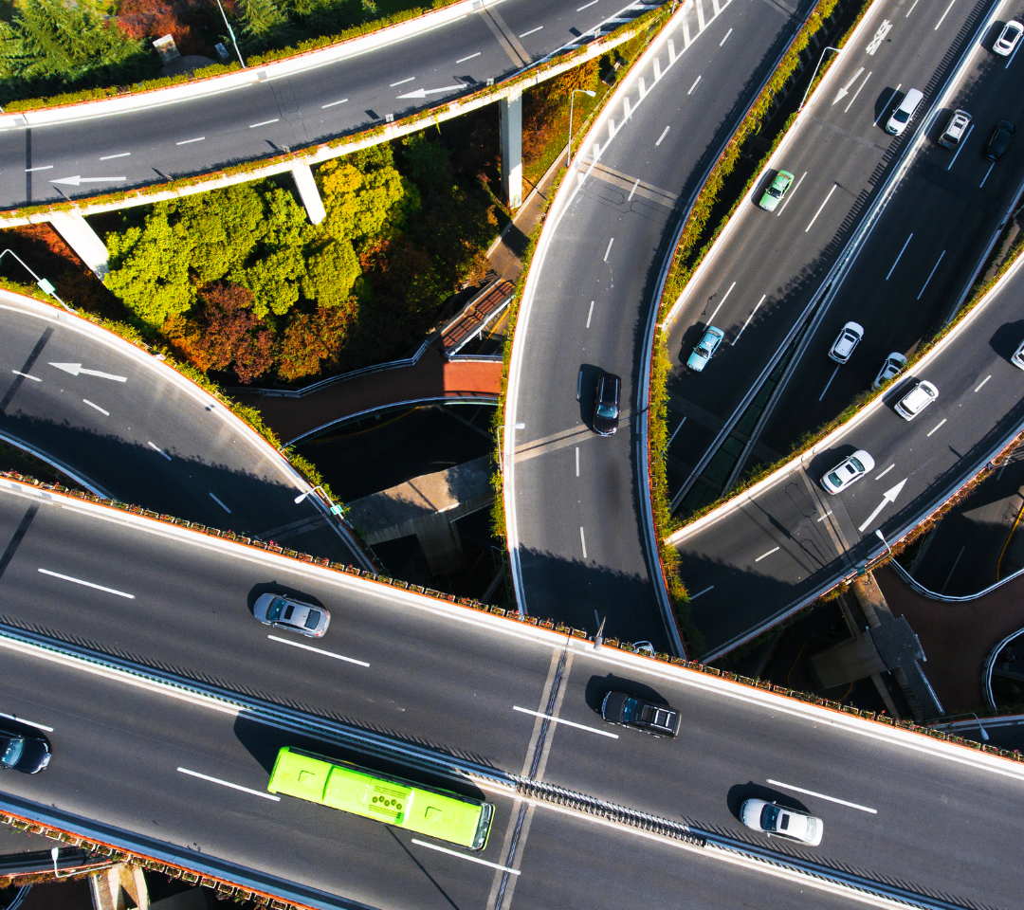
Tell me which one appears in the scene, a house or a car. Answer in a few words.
car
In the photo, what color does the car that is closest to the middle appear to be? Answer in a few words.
black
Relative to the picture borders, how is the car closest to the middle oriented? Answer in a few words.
up and down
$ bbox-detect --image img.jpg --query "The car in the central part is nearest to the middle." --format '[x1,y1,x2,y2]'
[590,374,623,440]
